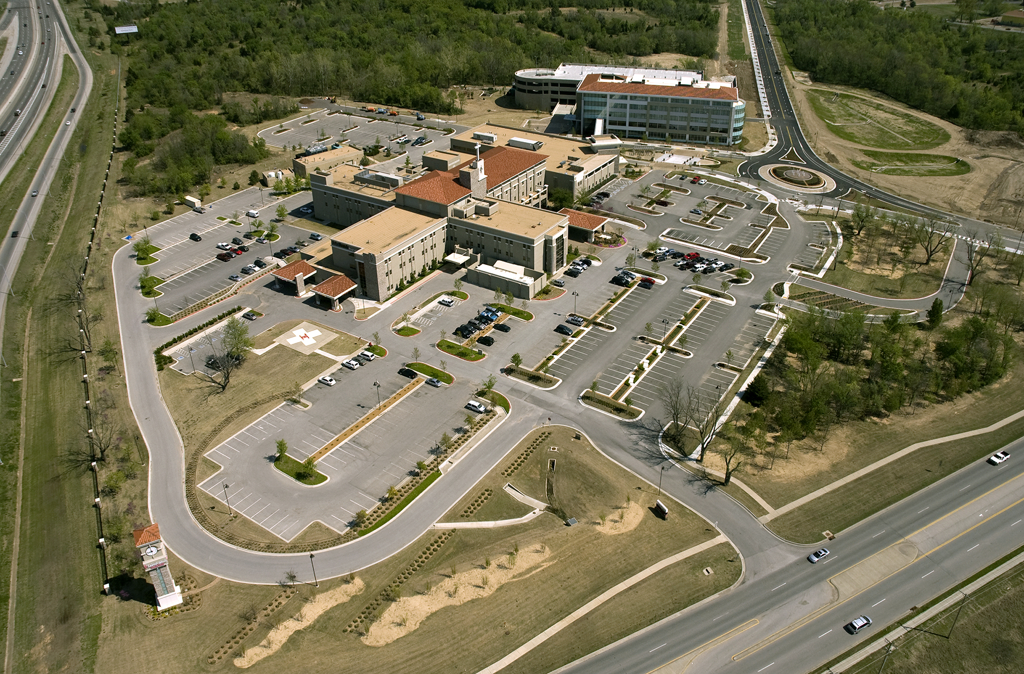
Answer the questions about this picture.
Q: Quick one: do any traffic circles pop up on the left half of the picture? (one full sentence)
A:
No, I see no traffic circle on the left half of the picture.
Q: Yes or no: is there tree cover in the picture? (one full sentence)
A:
Yes, there's tree cover in this view.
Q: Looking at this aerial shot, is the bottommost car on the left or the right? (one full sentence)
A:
The bottommost car is on the right side of the image.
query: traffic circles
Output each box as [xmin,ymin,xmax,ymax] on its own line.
[759,165,836,192]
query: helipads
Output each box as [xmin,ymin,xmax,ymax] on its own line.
[274,321,338,353]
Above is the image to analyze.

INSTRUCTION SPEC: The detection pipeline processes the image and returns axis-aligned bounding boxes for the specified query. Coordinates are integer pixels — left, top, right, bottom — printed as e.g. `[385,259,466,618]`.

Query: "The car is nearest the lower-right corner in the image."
[846,617,873,637]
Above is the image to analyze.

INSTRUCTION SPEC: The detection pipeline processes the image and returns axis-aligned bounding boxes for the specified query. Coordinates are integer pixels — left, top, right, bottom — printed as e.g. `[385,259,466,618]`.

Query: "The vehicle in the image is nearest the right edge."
[988,450,1012,467]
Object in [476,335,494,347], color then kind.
black vehicle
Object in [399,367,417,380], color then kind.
black vehicle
